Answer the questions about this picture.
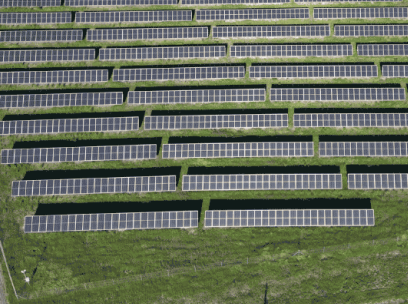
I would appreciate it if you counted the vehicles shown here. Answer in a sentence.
The picture shows no vehicles.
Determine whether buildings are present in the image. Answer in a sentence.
No, the scene contains no building.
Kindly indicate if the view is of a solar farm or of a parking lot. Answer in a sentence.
The picture captures a solar farm.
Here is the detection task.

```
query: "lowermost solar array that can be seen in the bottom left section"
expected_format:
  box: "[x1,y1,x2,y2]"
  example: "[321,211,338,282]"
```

[25,211,198,232]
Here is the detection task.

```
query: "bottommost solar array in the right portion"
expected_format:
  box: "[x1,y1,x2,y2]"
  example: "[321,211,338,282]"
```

[205,209,374,226]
